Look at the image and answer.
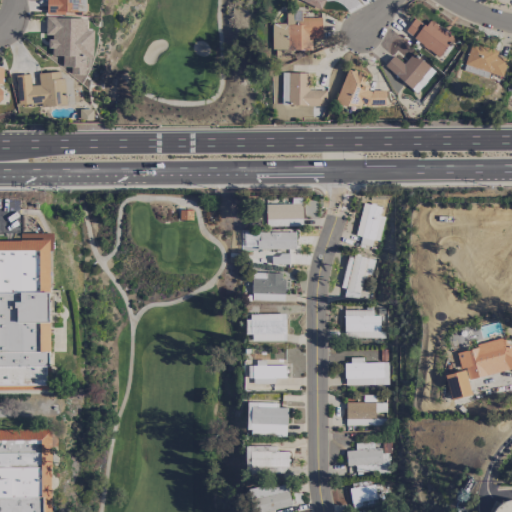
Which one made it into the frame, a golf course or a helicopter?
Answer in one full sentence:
This aerial view contains a golf course.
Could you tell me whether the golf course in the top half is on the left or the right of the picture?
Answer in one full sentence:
The golf course in the top half sits on the left side.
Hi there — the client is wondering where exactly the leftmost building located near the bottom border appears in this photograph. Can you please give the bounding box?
[0,431,57,512]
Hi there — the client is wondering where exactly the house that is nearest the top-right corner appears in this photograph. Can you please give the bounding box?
[466,45,510,80]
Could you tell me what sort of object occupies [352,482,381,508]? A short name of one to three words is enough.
house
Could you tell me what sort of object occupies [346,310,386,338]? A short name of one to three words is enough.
house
